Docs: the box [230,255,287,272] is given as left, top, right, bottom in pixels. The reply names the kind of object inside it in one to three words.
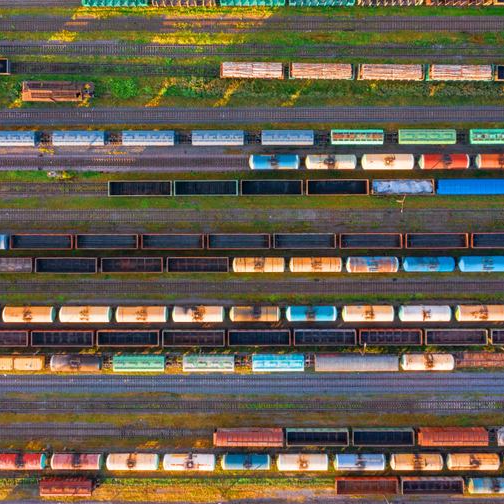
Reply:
rail car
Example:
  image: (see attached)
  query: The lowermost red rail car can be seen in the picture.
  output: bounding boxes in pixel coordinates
[39,476,97,496]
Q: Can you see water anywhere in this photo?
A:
No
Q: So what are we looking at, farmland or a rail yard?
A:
rail yard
